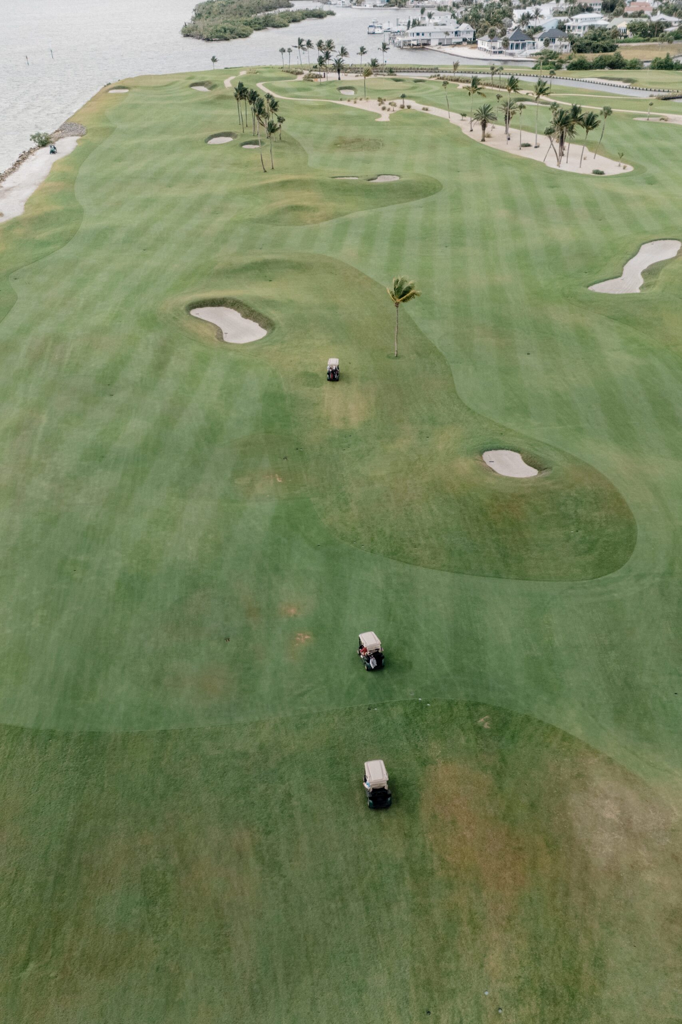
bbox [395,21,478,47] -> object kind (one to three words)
house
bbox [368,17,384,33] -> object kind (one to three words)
boat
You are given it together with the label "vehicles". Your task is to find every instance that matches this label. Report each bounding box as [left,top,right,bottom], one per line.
[359,631,389,672]
[327,358,339,380]
[366,761,394,810]
[47,144,57,154]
